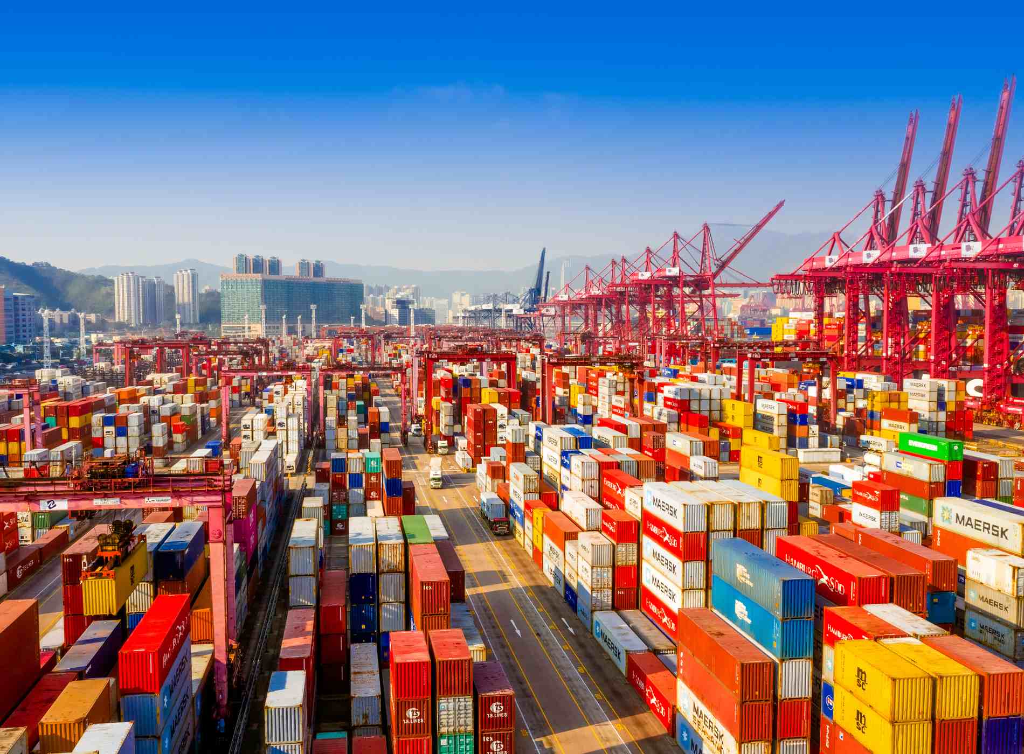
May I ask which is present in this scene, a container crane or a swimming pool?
container crane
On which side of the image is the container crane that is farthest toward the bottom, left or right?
left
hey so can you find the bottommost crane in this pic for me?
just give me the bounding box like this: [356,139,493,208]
[0,448,248,752]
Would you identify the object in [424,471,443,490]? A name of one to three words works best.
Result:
vehicle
